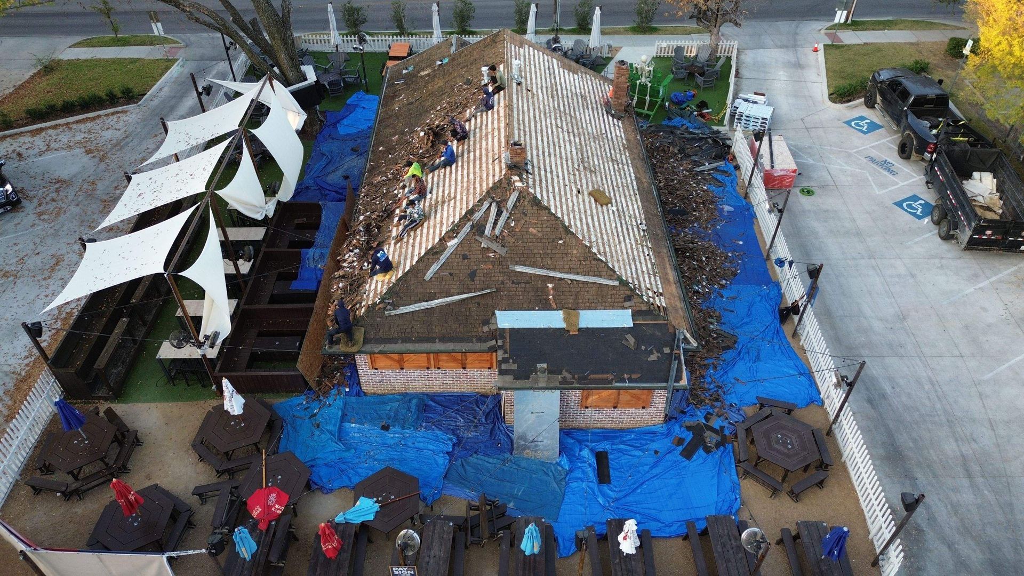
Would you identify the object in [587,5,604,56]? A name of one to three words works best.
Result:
umbrella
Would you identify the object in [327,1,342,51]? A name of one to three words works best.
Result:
umbrella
